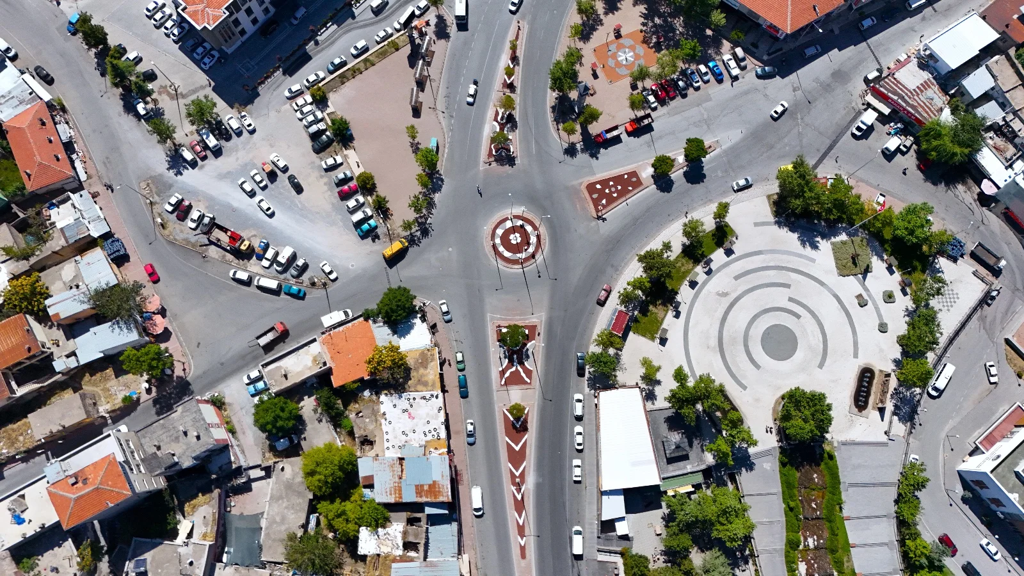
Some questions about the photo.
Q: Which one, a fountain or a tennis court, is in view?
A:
fountain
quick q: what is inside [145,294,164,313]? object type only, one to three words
umbrella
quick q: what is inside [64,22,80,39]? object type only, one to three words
car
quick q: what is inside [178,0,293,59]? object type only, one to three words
building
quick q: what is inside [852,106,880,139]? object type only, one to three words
vehicle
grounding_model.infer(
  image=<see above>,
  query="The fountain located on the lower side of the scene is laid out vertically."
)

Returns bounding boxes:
[849,365,878,418]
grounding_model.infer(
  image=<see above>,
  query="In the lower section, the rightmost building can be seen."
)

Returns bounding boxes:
[958,402,1024,541]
